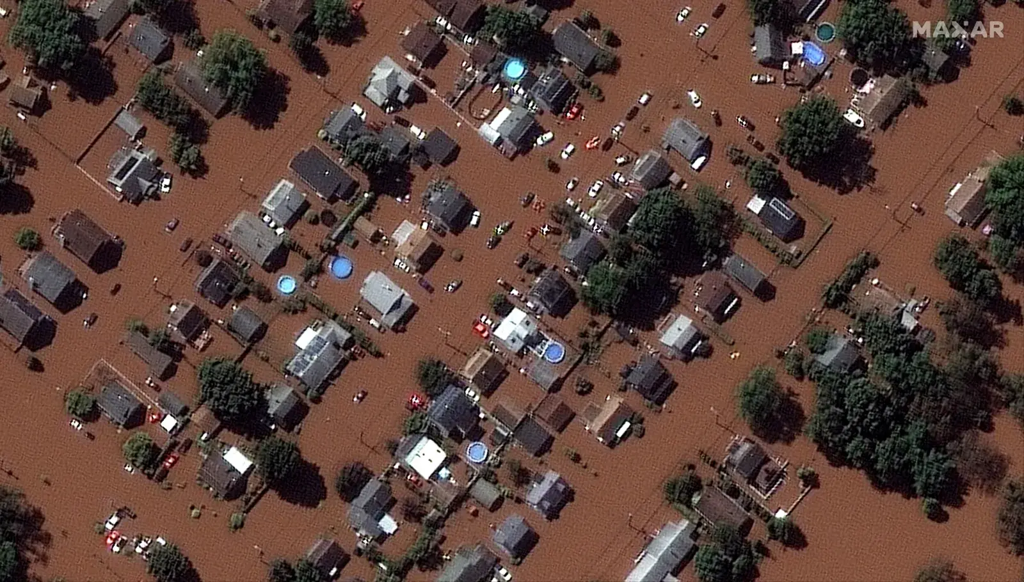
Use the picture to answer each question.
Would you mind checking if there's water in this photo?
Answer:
Yes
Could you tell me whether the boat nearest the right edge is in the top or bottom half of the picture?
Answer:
top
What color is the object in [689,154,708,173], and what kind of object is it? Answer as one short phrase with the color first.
white vehicle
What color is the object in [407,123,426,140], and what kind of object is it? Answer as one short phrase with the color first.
white vehicle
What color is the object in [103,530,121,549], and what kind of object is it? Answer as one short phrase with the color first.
red car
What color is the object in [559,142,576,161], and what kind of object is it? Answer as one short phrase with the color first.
white car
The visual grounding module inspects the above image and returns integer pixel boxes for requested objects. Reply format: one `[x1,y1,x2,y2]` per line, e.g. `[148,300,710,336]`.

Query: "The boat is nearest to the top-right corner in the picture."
[840,106,865,126]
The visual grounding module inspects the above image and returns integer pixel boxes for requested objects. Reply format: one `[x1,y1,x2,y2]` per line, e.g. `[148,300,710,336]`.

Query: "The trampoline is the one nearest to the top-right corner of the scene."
[851,70,868,86]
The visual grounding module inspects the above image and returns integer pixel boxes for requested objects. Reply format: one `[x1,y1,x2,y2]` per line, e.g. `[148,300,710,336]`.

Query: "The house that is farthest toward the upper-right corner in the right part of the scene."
[923,48,951,71]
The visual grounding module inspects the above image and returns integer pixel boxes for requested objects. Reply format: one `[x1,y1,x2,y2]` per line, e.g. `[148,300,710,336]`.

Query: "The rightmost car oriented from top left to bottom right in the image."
[907,200,926,216]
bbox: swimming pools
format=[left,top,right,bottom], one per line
[330,257,354,278]
[503,58,526,79]
[466,442,489,462]
[815,22,837,41]
[544,341,564,362]
[277,275,298,294]
[802,43,826,64]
